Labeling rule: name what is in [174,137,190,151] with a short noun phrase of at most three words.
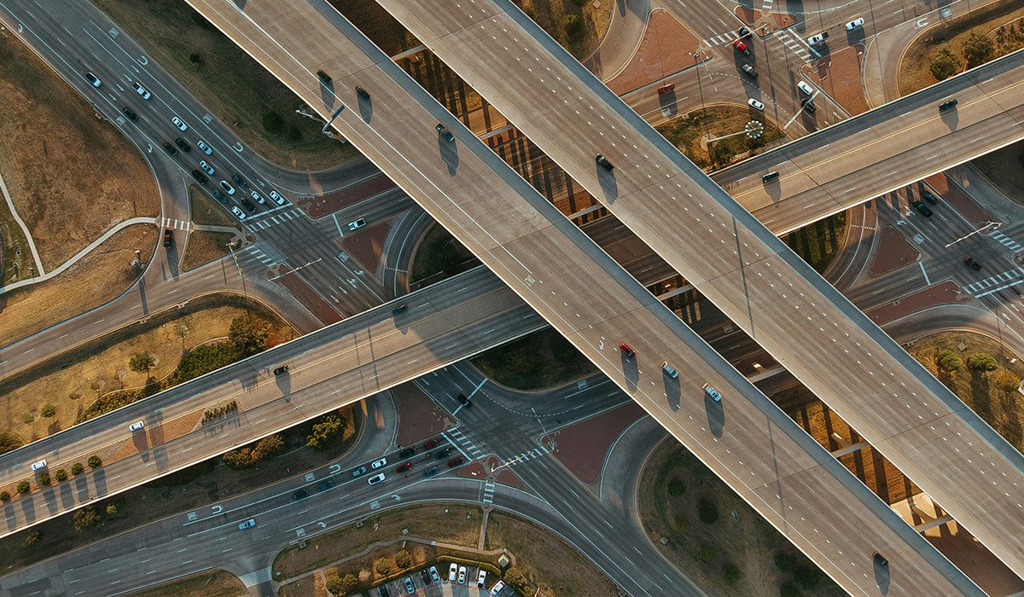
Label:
car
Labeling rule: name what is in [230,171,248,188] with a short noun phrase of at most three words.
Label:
vehicle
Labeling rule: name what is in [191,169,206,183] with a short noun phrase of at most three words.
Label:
car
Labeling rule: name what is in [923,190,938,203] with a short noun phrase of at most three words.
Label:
vehicle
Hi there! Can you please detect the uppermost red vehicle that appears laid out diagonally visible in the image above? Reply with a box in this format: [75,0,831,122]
[734,39,752,55]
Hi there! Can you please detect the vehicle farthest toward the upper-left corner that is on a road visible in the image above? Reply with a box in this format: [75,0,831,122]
[85,72,100,85]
